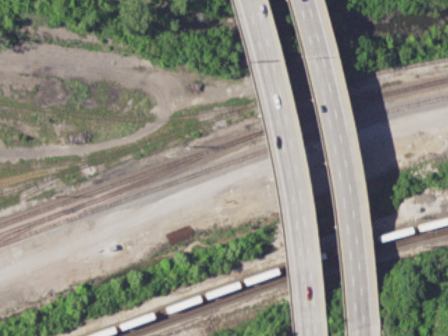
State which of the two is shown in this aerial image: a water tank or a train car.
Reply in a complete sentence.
It is a train car that can be seen here.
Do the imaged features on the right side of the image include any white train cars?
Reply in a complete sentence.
Yes, a white train car shows up on the right side of the image.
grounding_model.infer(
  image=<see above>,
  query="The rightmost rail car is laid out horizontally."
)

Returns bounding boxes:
[417,218,448,232]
